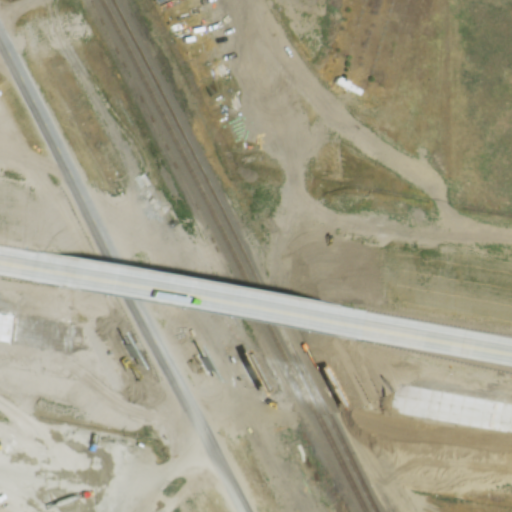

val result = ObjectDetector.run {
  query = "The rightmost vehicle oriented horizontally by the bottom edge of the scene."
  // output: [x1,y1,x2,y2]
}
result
[46,491,96,508]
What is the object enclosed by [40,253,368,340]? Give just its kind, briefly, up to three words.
bridge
